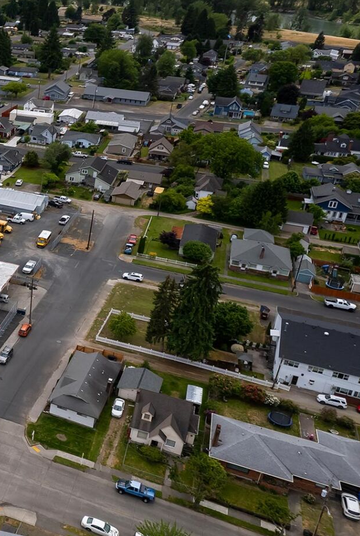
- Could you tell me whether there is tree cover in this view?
Yes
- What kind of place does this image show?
residential area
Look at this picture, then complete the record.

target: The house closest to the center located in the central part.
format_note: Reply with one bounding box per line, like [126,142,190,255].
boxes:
[178,221,222,259]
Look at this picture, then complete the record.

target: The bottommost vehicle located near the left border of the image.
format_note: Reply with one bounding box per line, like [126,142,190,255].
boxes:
[0,347,15,363]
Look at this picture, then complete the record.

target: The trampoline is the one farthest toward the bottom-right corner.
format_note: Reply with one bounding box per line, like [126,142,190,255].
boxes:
[267,411,294,429]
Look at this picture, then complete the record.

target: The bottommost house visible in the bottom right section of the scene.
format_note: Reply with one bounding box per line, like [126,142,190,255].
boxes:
[210,415,360,497]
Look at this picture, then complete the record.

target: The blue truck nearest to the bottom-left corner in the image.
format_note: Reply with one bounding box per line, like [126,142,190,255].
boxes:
[116,481,156,504]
